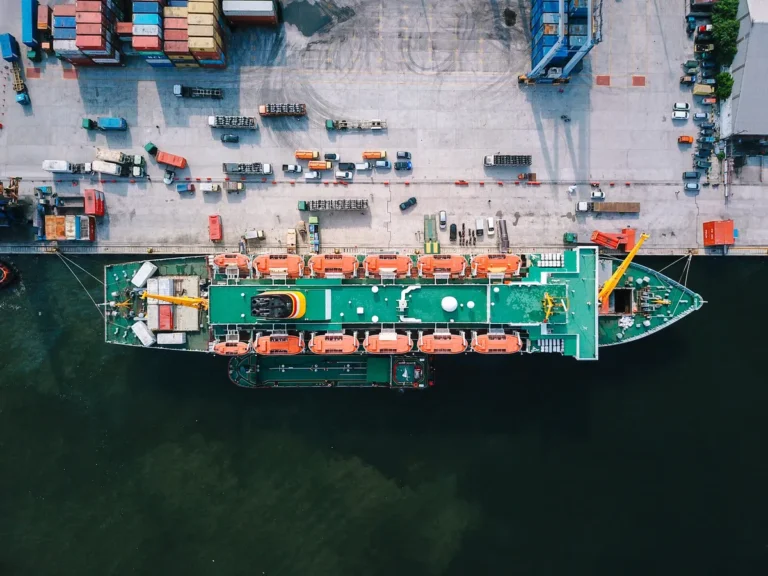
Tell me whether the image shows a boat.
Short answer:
Yes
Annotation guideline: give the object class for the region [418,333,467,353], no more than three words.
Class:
boat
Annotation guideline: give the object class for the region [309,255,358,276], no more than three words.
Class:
boat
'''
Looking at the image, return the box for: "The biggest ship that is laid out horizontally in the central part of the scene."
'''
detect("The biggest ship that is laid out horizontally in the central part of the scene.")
[97,233,707,359]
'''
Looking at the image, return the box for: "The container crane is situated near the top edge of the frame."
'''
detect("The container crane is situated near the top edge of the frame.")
[524,0,601,81]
